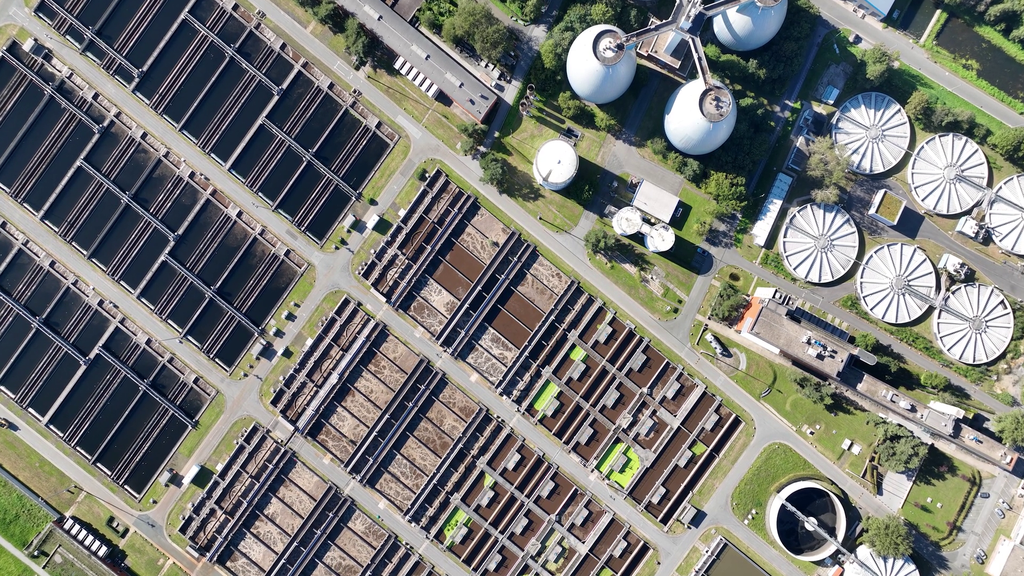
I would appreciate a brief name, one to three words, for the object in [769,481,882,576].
storage tank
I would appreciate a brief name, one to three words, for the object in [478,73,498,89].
vehicle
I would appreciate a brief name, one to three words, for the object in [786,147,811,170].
shed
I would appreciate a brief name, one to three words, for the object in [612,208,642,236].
storage tank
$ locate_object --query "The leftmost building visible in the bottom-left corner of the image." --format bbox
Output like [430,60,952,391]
[11,519,127,576]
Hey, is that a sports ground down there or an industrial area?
industrial area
